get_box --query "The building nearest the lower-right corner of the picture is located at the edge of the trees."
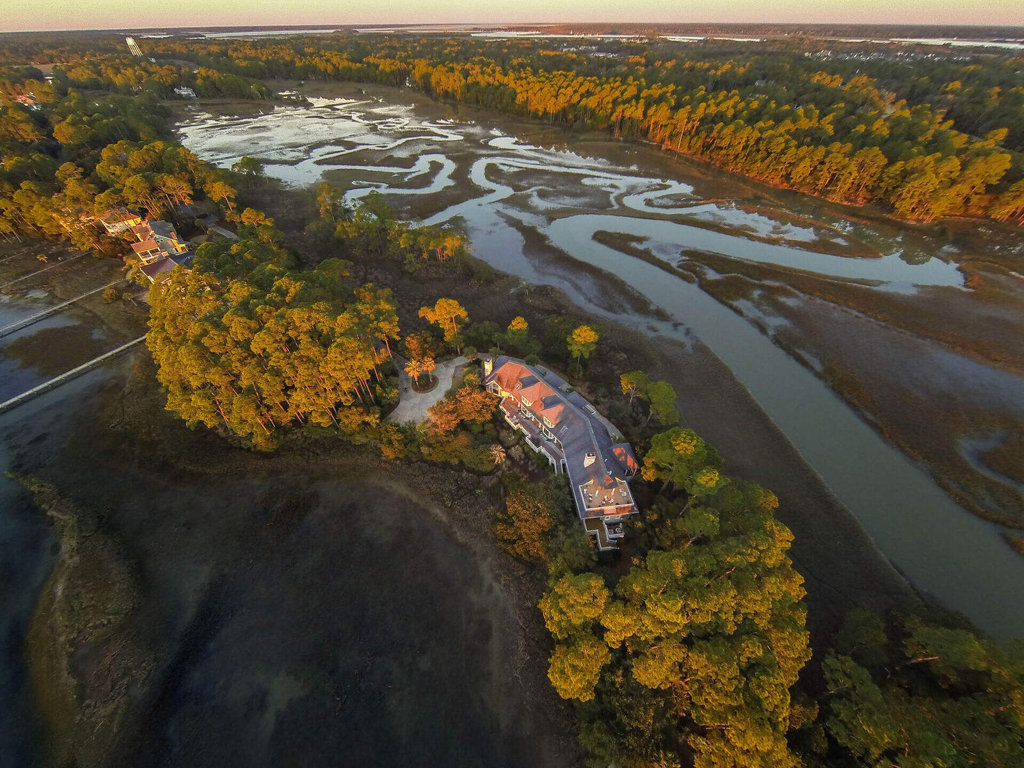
[480,354,647,555]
